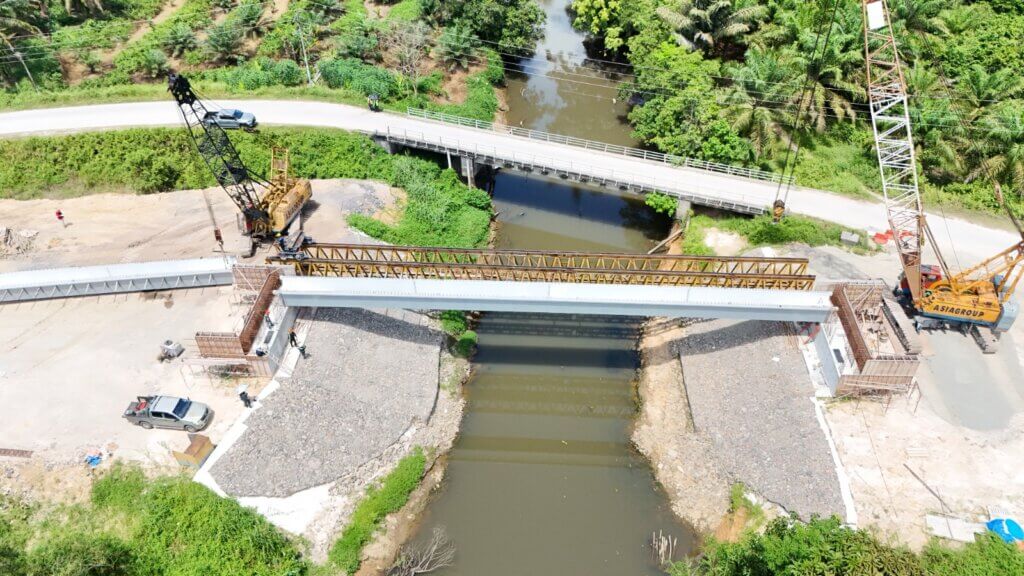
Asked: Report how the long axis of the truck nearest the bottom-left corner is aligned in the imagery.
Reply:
horizontally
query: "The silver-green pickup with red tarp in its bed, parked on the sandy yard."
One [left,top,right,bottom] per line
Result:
[118,391,211,431]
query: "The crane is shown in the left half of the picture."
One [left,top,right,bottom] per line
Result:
[155,78,320,268]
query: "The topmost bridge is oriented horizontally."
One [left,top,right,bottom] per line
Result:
[372,104,781,239]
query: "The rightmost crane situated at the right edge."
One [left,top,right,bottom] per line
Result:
[773,0,1024,357]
